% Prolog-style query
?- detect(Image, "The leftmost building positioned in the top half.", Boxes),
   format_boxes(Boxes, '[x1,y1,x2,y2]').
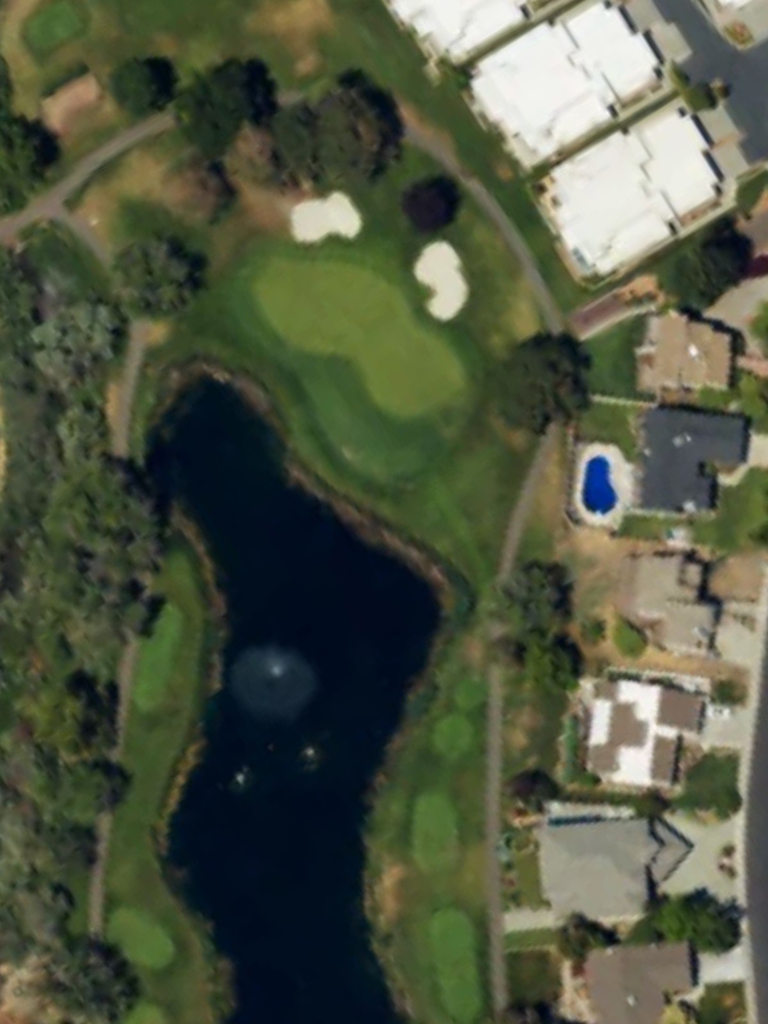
[392,0,534,58]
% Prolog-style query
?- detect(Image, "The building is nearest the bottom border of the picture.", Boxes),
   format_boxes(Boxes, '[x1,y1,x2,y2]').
[587,946,695,1024]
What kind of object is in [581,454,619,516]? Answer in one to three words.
swimming pool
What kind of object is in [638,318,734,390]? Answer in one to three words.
house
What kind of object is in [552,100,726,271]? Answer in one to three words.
house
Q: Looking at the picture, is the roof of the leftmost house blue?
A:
No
